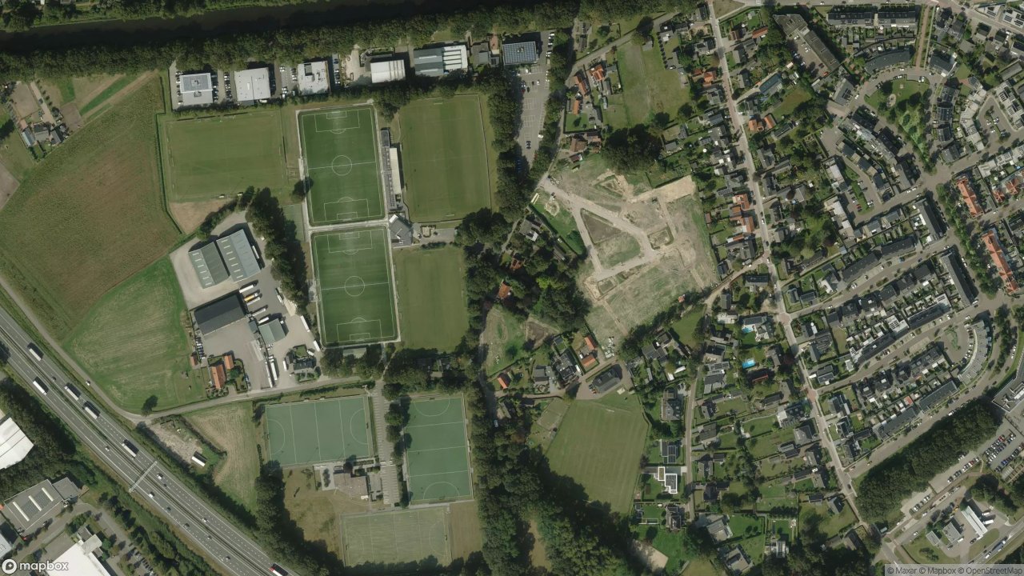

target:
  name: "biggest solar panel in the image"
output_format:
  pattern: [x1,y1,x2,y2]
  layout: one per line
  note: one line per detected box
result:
[503,42,536,63]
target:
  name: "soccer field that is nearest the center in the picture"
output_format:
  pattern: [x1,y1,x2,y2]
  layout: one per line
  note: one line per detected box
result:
[394,245,469,350]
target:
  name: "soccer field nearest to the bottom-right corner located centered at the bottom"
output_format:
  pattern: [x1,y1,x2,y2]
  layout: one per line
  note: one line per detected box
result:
[549,398,649,513]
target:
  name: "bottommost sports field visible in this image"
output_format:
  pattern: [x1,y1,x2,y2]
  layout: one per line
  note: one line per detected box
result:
[342,506,453,569]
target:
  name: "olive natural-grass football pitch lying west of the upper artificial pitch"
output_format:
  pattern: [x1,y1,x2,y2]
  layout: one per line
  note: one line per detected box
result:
[166,109,285,200]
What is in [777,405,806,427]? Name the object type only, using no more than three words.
house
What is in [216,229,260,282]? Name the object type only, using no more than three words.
building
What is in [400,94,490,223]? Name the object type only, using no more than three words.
soccer field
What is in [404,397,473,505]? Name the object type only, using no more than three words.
sports field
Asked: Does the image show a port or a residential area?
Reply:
residential area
